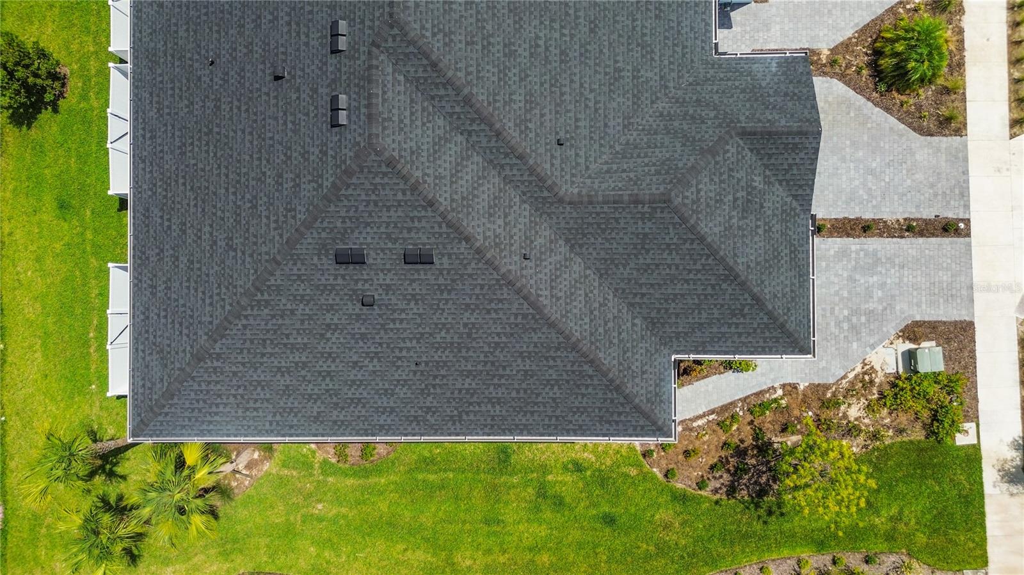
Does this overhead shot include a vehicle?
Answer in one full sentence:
No, the picture doesn't show any vehicle.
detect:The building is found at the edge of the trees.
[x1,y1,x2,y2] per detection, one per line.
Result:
[126,0,821,444]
